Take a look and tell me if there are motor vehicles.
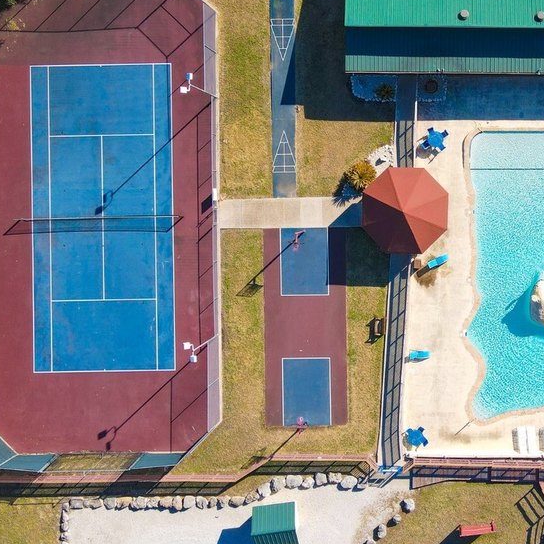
No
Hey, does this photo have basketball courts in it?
Yes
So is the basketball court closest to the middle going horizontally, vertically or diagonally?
vertically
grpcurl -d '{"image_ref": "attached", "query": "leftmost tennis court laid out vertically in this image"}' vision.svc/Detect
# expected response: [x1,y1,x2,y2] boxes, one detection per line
[0,0,223,456]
